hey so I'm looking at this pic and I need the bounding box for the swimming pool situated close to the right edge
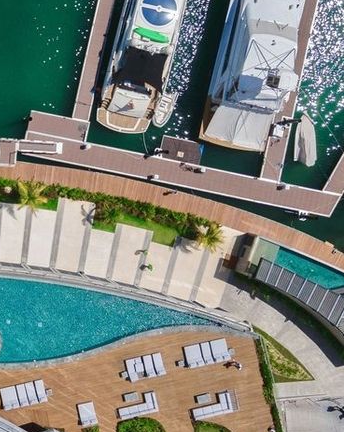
[247,235,344,329]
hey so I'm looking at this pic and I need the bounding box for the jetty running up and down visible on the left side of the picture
[71,0,115,121]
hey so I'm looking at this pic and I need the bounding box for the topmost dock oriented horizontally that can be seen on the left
[27,111,89,142]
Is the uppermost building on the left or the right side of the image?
right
